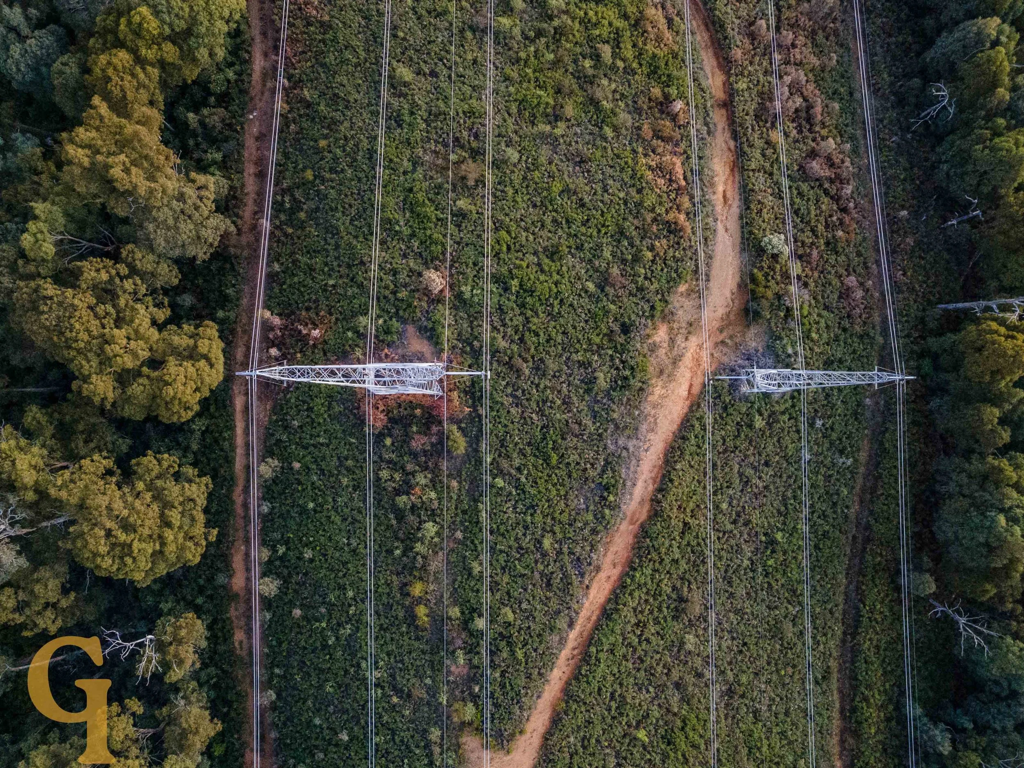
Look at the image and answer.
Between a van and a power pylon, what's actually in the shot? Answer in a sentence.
There is a power pylon in the scene.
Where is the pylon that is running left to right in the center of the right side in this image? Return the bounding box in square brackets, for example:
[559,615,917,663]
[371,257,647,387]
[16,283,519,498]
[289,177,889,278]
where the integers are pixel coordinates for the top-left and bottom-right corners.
[706,363,921,392]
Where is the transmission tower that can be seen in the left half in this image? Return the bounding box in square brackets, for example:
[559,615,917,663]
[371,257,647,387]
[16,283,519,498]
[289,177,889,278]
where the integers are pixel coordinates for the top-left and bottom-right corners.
[236,355,488,395]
